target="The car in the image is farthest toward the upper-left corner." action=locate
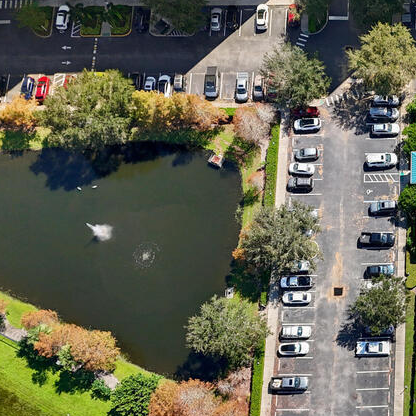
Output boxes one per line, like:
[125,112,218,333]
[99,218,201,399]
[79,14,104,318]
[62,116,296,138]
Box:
[55,5,70,30]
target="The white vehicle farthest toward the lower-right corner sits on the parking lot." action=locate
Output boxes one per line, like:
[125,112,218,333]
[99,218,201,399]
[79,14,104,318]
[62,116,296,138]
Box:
[355,341,391,356]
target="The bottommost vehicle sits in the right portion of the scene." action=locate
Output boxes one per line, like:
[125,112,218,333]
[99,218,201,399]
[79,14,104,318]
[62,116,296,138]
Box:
[271,375,308,390]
